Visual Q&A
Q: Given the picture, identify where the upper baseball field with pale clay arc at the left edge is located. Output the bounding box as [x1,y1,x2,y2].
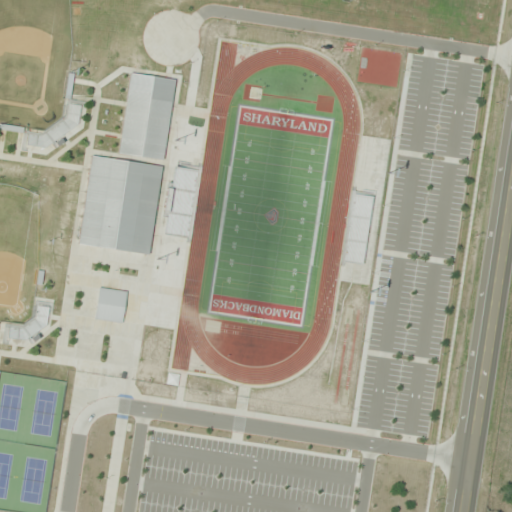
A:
[0,0,56,114]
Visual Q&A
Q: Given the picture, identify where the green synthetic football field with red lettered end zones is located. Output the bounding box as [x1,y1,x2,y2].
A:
[200,66,343,332]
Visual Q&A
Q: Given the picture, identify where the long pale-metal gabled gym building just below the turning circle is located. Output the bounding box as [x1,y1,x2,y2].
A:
[120,73,178,159]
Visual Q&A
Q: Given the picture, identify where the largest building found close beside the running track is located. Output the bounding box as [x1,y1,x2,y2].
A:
[79,156,164,253]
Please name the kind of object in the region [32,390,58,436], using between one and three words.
tennis court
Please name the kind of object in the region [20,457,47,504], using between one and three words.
tennis court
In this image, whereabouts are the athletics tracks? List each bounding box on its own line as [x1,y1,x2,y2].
[174,42,363,388]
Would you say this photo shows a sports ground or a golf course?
sports ground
